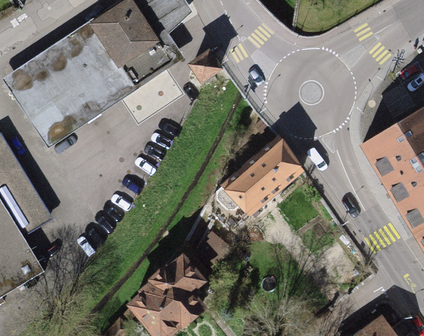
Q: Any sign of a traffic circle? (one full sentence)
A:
Yes, the picture does show a traffic circle.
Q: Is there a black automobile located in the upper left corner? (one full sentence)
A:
Yes, a black automobile can be seen in the upper left corner.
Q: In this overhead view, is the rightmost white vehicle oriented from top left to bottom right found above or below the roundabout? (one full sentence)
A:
Looking at the scene, the rightmost white vehicle oriented from top left to bottom right is located below the roundabout.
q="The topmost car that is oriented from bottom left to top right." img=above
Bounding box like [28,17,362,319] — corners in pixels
[82,4,104,22]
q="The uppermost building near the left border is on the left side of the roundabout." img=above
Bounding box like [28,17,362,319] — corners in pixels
[2,18,136,146]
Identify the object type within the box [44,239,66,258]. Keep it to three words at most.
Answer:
car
